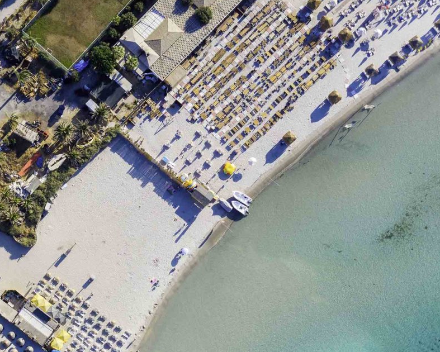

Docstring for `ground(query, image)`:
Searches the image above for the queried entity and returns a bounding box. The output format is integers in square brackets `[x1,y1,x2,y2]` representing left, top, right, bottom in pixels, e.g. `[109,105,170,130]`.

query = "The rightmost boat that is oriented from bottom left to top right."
[51,153,66,169]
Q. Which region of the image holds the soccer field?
top left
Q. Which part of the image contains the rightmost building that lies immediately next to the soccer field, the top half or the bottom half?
top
